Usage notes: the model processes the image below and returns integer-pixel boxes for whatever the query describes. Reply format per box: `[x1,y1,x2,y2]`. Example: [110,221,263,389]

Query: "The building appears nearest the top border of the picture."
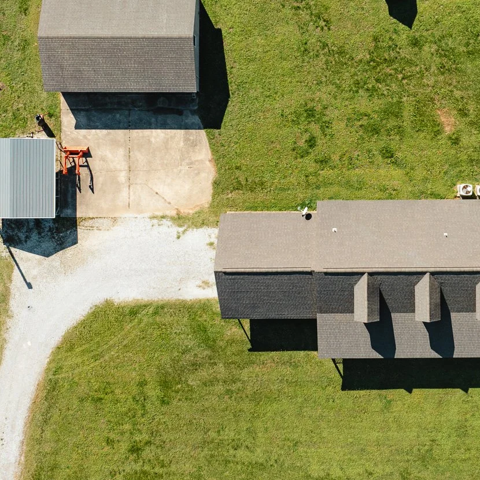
[36,0,199,91]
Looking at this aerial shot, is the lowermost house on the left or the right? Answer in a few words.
right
